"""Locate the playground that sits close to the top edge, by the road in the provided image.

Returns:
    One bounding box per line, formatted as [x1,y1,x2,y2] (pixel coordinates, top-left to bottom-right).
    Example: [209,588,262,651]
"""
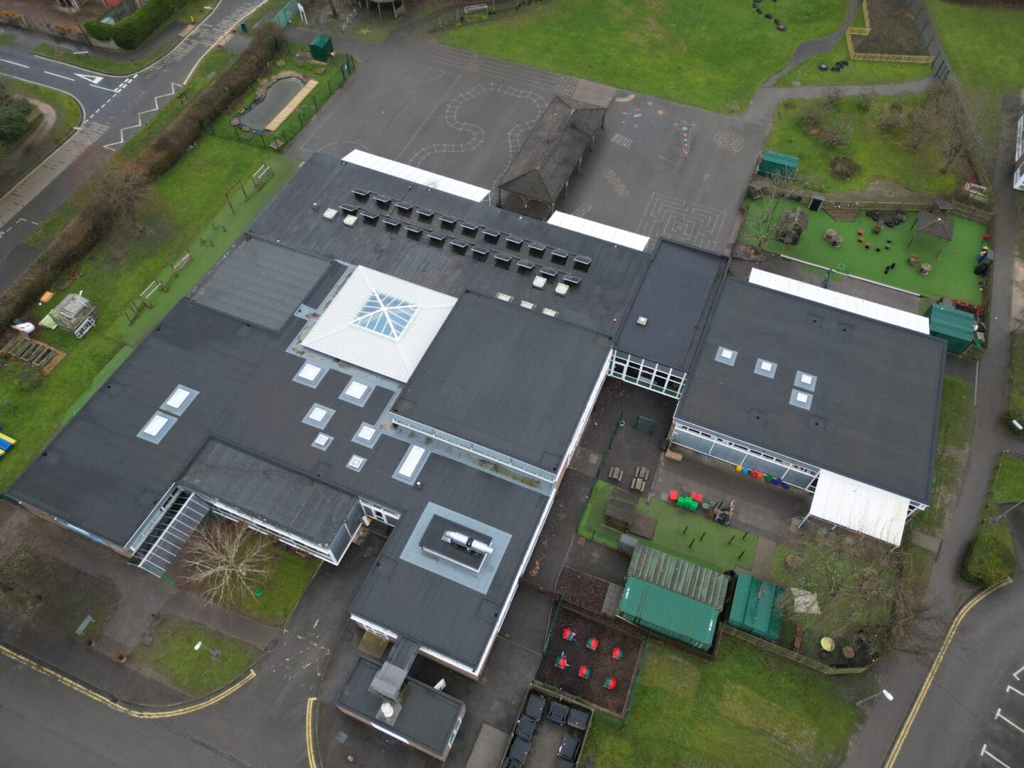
[283,0,940,255]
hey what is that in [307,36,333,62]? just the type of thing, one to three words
shed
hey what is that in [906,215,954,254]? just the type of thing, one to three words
gazebo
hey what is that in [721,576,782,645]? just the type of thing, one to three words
shed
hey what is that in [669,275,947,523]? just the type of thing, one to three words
building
